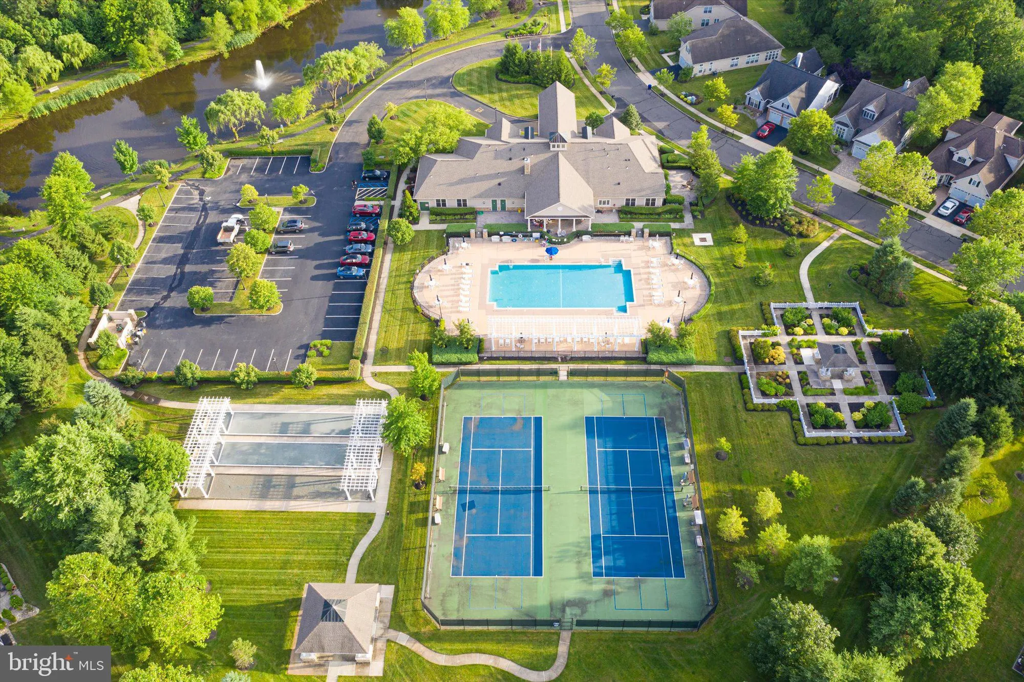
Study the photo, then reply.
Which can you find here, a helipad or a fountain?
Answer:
fountain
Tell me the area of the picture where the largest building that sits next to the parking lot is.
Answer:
top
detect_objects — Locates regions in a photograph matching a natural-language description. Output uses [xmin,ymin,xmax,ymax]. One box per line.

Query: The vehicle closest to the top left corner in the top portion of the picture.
[218,219,243,244]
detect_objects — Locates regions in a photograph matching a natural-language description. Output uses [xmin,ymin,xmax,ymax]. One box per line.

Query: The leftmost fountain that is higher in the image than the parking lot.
[251,59,276,91]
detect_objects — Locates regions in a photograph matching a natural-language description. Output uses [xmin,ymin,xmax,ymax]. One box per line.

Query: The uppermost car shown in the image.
[757,123,777,137]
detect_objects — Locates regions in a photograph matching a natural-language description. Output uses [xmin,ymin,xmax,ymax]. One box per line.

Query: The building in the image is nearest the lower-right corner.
[815,341,861,370]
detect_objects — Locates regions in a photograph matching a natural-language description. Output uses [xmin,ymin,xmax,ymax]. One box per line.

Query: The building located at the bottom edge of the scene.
[294,582,379,655]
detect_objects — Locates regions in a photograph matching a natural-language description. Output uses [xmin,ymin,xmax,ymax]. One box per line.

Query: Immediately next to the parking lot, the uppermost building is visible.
[414,80,667,231]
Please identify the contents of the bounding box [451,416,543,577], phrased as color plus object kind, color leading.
blue tennis court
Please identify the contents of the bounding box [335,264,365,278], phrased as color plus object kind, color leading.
blue car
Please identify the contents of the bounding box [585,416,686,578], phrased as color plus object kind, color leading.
blue tennis court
